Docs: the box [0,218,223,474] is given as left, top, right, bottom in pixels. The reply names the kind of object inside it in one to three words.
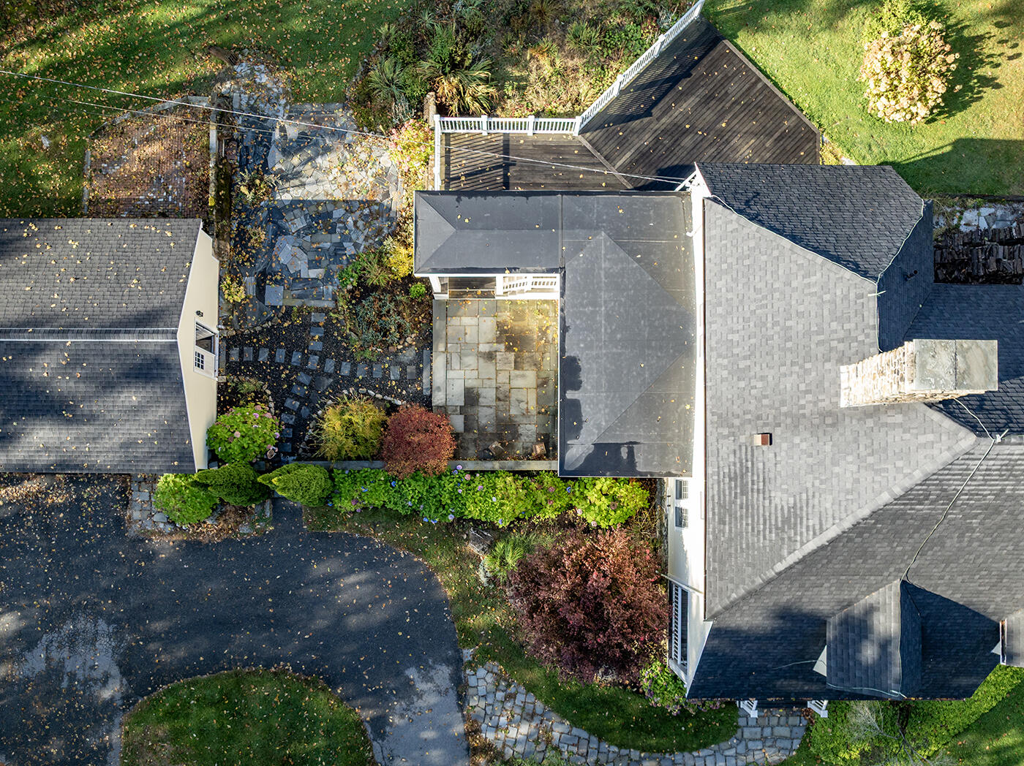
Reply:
shed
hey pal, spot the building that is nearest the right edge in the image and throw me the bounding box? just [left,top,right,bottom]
[413,162,1024,721]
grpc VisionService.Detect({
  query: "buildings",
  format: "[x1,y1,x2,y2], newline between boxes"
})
[413,162,1024,721]
[0,218,223,474]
